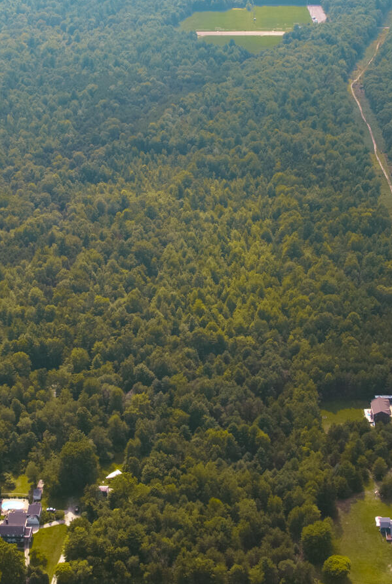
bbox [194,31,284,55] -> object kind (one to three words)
sports field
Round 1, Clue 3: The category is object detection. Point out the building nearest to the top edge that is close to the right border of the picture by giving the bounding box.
[360,398,392,424]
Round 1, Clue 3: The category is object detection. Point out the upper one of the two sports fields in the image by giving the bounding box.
[181,5,328,32]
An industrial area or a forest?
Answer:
forest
